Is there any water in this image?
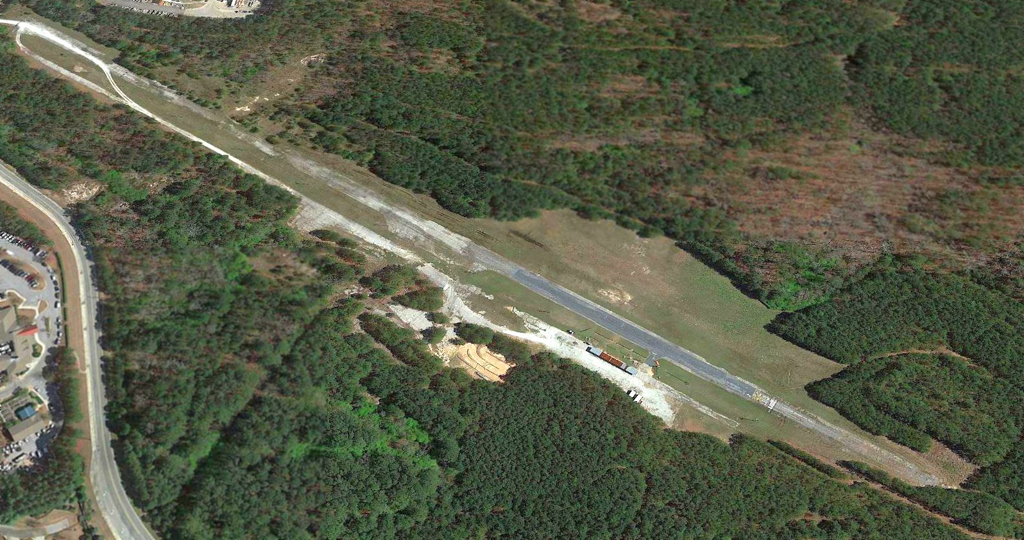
No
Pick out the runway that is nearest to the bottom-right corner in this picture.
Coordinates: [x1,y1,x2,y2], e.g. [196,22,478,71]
[746,389,941,487]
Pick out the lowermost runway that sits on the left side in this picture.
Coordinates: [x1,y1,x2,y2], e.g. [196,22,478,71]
[282,151,516,276]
